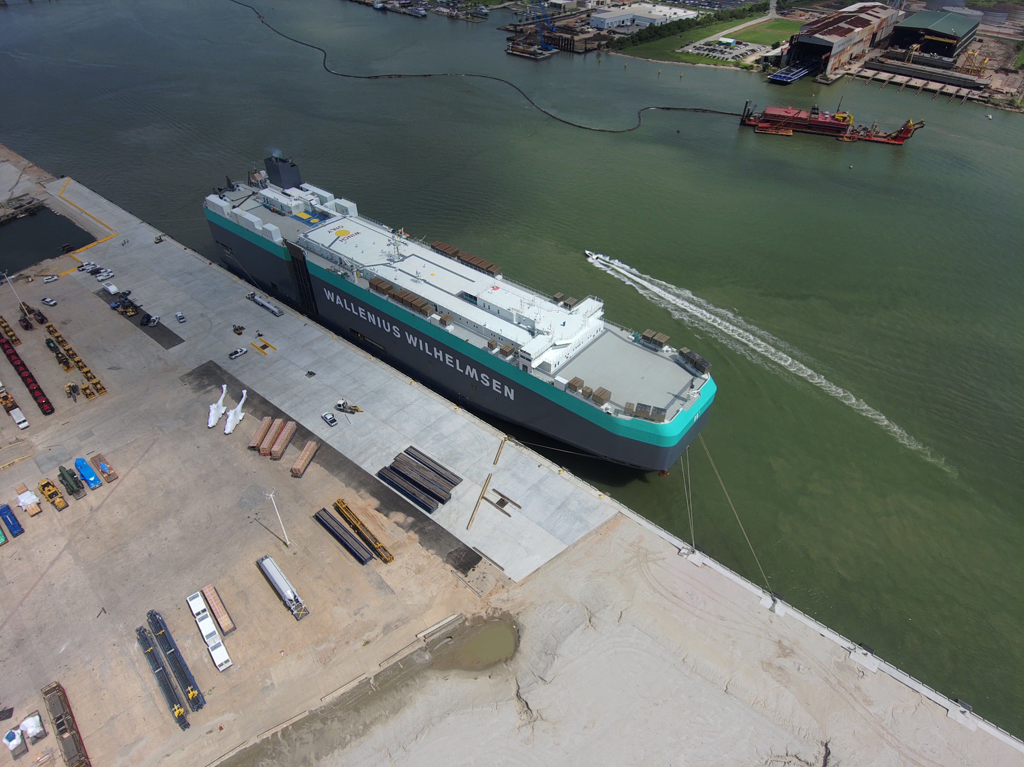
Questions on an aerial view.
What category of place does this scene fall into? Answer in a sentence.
The picture captures a port.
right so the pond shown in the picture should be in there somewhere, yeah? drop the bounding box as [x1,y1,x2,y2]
[459,625,518,668]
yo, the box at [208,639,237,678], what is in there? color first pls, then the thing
white vehicle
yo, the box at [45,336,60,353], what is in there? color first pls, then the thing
black work vehicle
